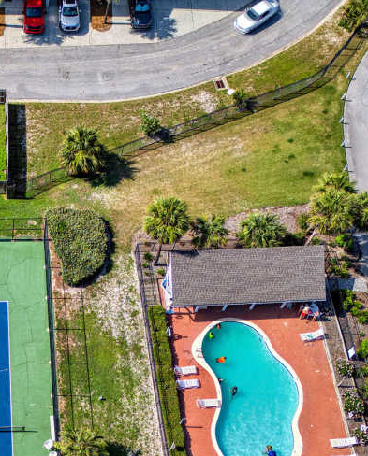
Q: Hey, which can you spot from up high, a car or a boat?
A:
car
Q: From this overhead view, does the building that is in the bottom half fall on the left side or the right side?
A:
right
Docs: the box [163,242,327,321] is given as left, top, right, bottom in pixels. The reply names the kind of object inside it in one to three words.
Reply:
building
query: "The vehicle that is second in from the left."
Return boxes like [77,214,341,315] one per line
[58,0,81,31]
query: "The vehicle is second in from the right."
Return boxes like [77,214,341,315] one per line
[127,0,151,28]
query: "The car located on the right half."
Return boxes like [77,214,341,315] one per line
[232,0,275,32]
